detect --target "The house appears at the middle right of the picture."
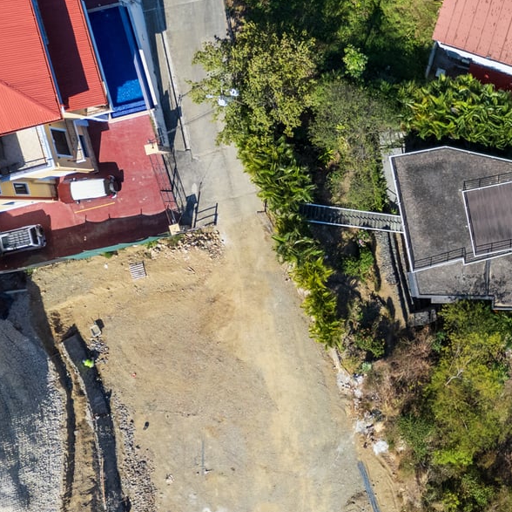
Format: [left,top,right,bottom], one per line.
[389,146,512,310]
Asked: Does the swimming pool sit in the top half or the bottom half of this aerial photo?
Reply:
top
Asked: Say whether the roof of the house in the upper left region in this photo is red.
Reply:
Yes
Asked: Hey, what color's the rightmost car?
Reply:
white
